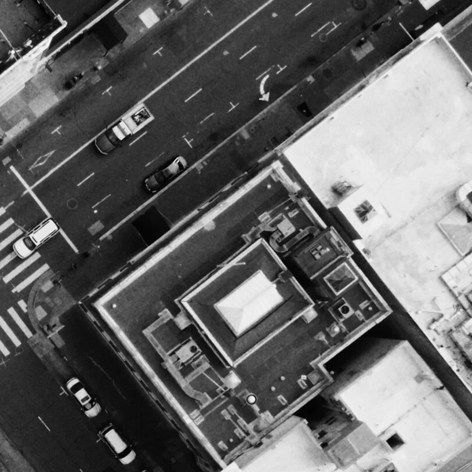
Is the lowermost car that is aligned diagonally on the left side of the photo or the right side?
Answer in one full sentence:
You can find the lowermost car that is aligned diagonally on the left side of the picture.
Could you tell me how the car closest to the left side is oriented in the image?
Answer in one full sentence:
In this picture, the car closest to the left side is oriented at an angle.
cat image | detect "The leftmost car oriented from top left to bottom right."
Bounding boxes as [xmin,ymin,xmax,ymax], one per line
[65,376,100,417]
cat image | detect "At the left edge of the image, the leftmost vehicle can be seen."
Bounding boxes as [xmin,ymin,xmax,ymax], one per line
[12,215,63,260]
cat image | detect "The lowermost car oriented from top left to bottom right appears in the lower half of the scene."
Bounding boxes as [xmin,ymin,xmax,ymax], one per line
[97,422,135,465]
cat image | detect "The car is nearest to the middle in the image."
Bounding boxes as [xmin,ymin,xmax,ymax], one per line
[141,153,188,192]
